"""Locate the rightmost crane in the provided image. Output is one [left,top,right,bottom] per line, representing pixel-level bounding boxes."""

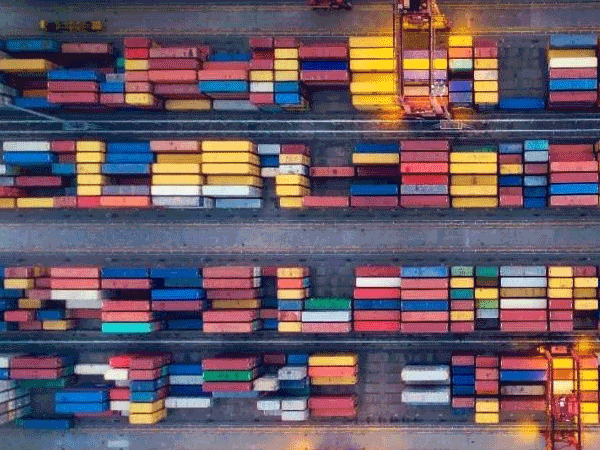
[535,345,586,450]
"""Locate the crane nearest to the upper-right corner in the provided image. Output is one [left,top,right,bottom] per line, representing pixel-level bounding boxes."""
[391,0,447,115]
